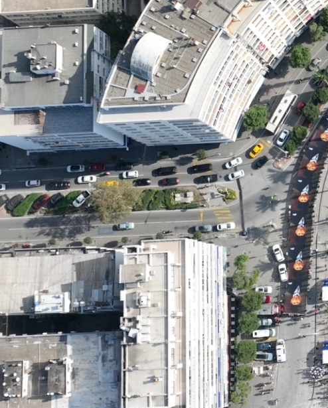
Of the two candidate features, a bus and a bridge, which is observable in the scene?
bus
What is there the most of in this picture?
buildings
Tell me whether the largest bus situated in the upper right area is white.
Yes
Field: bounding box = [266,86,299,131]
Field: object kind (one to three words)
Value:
bus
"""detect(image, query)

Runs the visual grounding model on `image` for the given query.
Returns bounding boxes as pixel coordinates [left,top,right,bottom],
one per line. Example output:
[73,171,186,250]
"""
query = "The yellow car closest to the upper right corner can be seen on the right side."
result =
[248,142,265,159]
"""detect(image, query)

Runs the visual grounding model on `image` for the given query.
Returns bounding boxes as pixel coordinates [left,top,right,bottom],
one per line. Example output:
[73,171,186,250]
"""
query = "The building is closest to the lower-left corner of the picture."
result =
[0,331,123,408]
